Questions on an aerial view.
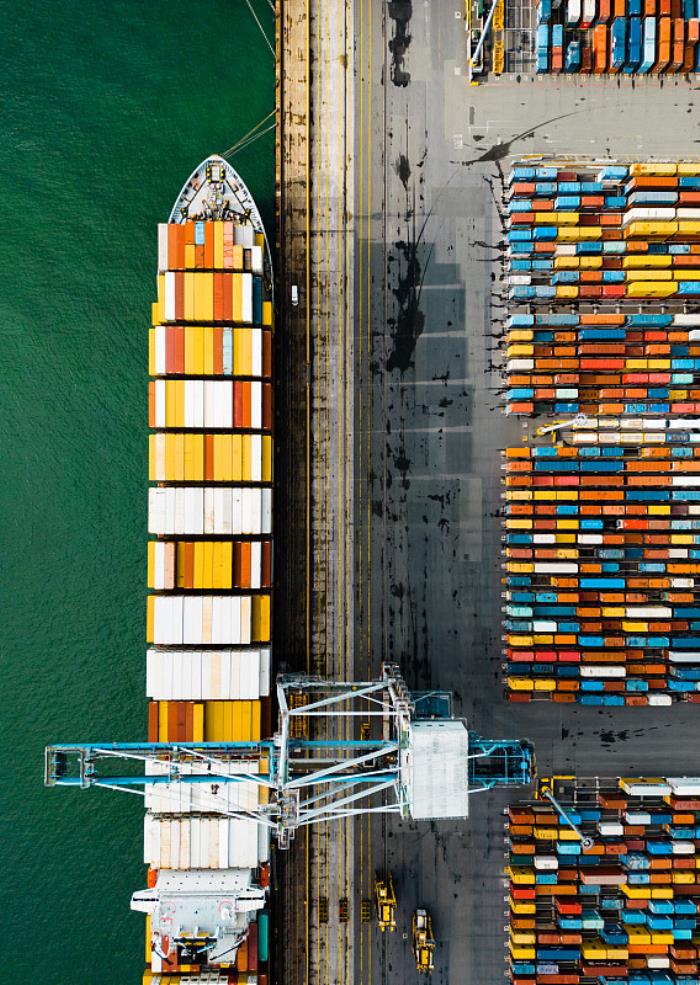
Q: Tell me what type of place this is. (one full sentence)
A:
It's a port.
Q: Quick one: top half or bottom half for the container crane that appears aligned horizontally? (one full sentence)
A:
The container crane that appears aligned horizontally sits in the bottom half of the picture.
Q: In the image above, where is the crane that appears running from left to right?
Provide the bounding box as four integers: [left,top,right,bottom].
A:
[43,646,540,849]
